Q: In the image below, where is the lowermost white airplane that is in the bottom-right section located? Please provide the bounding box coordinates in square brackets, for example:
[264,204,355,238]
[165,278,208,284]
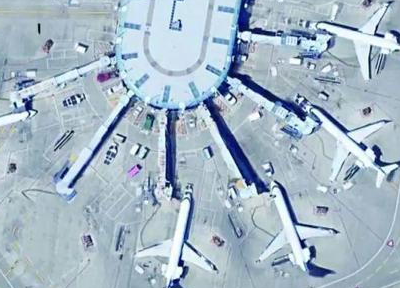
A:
[256,182,334,288]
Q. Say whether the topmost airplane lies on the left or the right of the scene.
right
